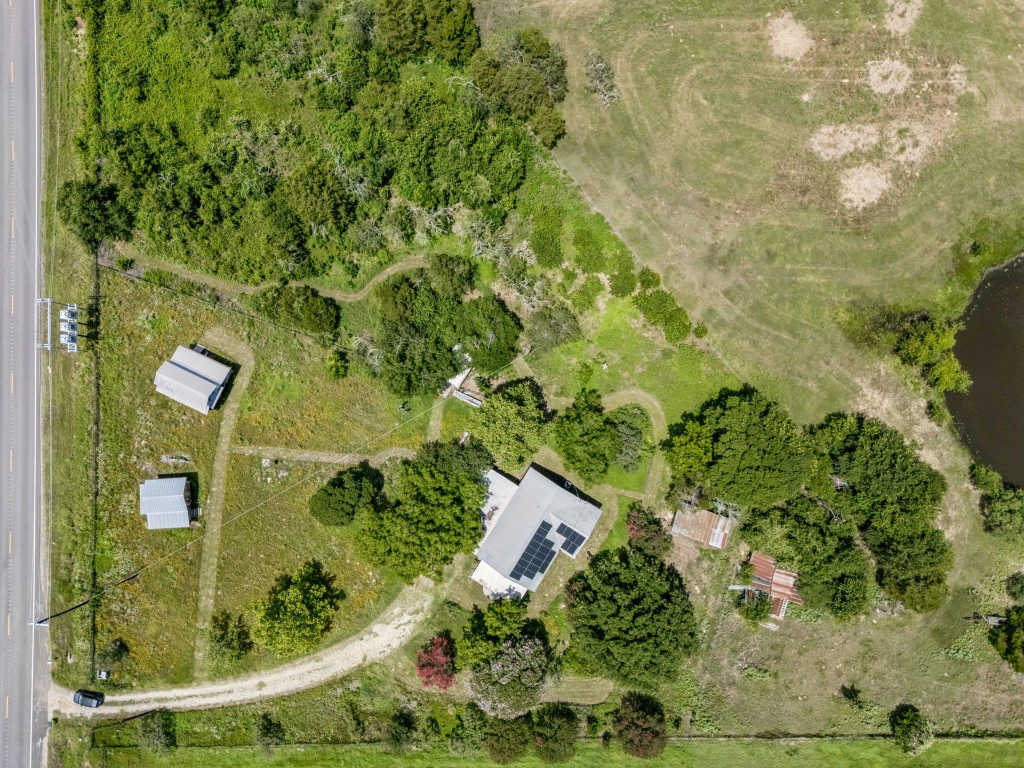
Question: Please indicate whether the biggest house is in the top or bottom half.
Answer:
bottom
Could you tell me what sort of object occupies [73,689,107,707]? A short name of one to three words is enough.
car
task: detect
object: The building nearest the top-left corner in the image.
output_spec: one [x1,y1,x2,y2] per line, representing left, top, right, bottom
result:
[155,345,238,415]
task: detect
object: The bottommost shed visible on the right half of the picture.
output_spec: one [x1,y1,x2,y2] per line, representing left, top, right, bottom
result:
[748,552,803,617]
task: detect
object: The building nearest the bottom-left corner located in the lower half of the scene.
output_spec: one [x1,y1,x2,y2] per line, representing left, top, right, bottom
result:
[140,477,202,529]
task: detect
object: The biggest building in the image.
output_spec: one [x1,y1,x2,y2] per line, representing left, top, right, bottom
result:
[469,467,602,605]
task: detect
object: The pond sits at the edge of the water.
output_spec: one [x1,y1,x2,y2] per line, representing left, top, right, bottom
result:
[946,253,1024,487]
